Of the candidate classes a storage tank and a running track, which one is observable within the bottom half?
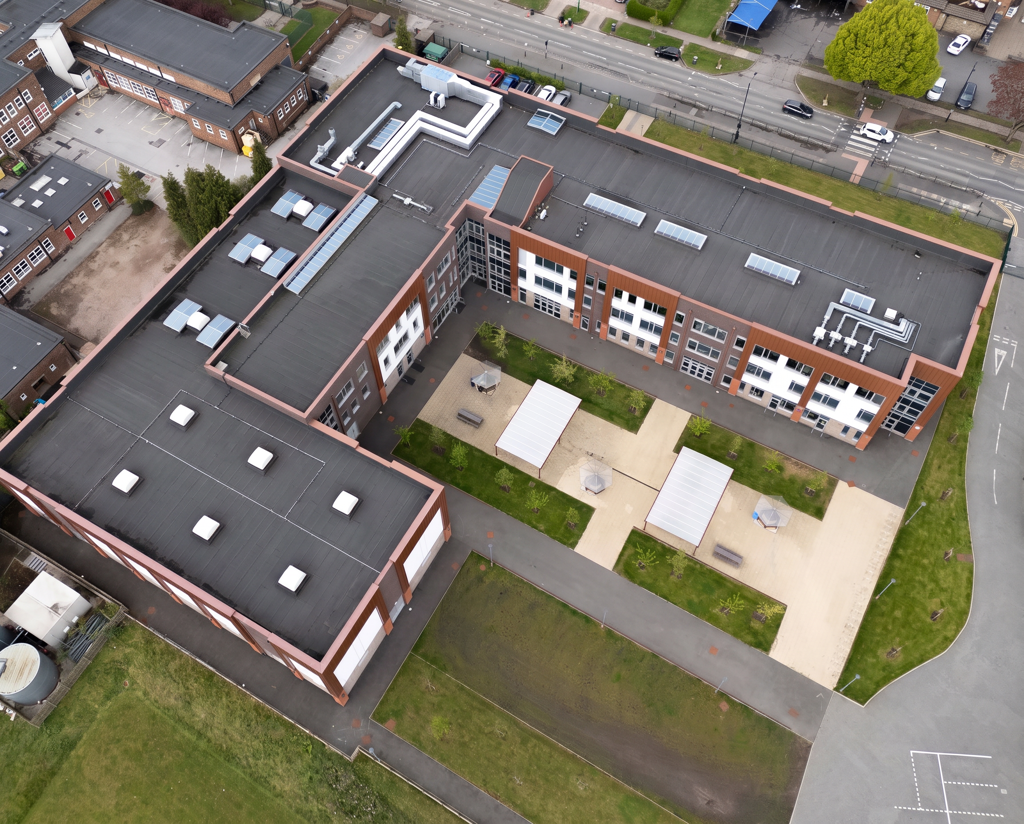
storage tank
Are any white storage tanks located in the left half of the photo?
Yes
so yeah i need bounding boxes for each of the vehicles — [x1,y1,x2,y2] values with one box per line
[861,123,894,144]
[927,73,947,97]
[483,67,504,87]
[654,44,681,61]
[536,85,556,103]
[783,99,815,120]
[551,91,571,109]
[957,79,978,106]
[497,74,519,91]
[512,78,533,97]
[949,35,970,54]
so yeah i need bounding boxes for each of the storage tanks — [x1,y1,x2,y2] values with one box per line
[0,639,55,704]
[0,615,32,643]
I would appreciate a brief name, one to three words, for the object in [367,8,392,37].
shed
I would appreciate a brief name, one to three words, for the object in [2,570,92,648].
building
